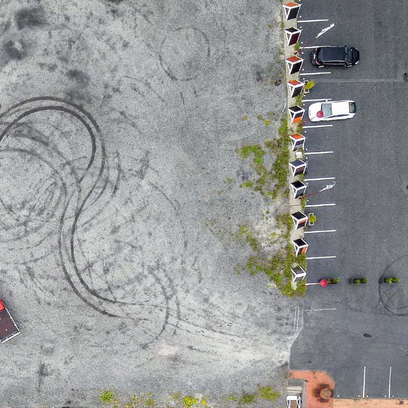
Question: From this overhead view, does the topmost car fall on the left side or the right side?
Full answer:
You can find the topmost car on the right side of the picture.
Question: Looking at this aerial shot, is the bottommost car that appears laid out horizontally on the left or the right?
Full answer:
The bottommost car that appears laid out horizontally is on the right side of the image.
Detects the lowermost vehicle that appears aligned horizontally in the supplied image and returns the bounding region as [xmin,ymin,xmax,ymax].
[309,98,360,123]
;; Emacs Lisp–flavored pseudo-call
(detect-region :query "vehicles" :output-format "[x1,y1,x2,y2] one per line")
[309,98,360,123]
[313,42,362,67]
[0,301,22,346]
